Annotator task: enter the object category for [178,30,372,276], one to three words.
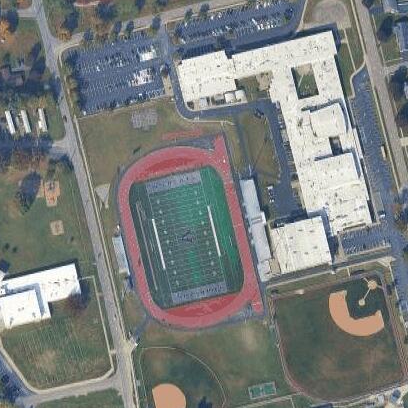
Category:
building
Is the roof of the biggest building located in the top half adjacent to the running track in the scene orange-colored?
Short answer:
No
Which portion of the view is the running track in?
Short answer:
center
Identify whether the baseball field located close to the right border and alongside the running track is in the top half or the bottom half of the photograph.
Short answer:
bottom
